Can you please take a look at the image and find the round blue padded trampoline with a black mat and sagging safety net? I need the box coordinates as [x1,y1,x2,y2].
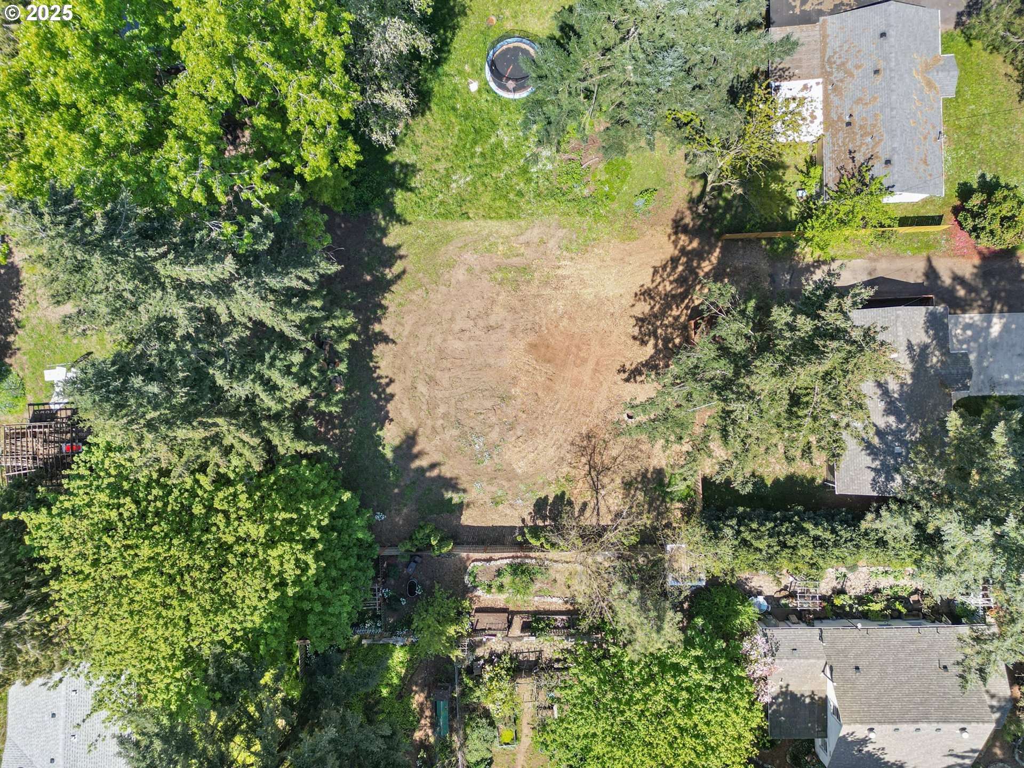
[484,30,542,97]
